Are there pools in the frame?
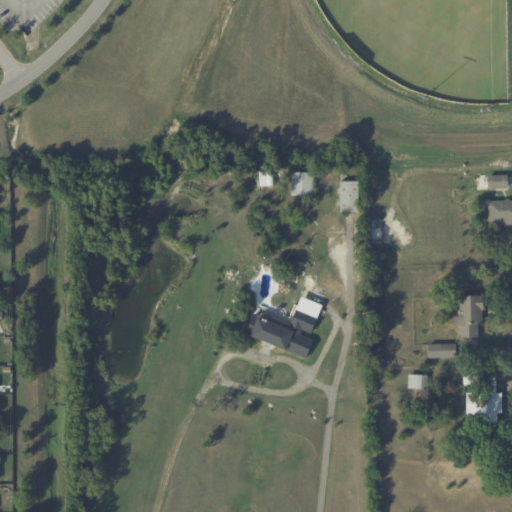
Yes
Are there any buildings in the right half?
Yes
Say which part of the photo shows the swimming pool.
center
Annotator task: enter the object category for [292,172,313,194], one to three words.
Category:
barn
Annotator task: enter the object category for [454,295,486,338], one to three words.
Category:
house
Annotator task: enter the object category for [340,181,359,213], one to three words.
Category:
building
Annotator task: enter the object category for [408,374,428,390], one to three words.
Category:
shed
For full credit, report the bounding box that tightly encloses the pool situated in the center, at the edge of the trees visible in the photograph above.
[250,264,294,330]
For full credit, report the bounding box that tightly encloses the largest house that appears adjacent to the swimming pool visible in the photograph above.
[250,310,318,358]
